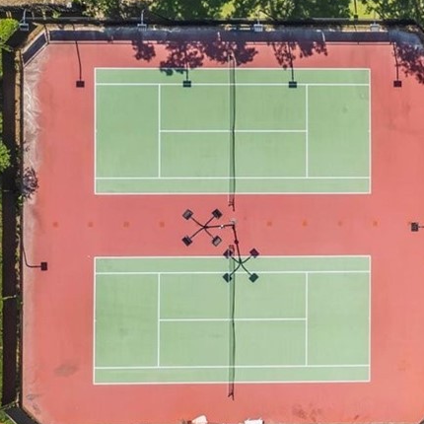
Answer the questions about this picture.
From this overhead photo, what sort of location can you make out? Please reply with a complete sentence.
The area seen from above is a sports ground.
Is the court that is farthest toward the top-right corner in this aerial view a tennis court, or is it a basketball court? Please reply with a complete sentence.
The court that is farthest toward the top-right corner appears to be a tennis court.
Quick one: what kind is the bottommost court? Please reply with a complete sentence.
Specifically, the bottommost court is a tennis court.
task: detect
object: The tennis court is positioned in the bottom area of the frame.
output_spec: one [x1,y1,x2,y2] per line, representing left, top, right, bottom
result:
[93,256,370,385]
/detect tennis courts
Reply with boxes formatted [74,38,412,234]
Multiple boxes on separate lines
[93,68,370,195]
[93,256,370,385]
